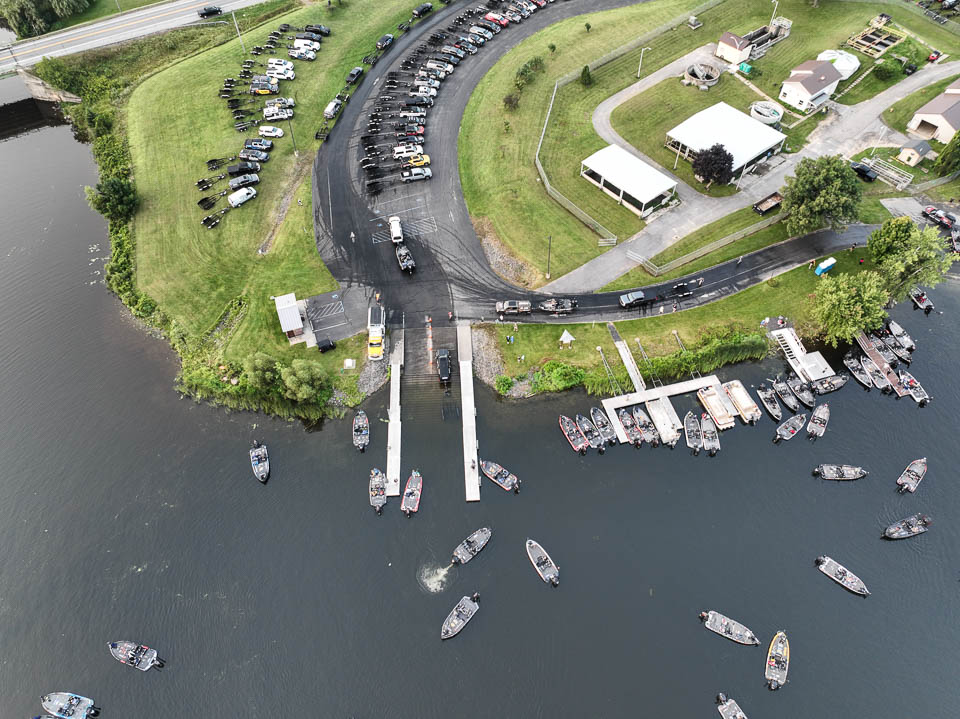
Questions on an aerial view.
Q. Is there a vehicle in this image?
Yes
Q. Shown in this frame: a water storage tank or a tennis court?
water storage tank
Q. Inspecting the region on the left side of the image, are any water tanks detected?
No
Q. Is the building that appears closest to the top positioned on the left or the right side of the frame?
right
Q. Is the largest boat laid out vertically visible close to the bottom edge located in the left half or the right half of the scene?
right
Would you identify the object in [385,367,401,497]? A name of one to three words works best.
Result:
pier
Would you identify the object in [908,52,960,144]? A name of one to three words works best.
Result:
building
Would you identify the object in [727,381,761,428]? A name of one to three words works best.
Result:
boat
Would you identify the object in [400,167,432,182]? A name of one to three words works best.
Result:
vehicle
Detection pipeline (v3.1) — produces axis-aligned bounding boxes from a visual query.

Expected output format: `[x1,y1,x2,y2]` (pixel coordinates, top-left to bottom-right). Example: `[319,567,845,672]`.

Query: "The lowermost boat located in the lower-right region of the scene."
[717,690,744,719]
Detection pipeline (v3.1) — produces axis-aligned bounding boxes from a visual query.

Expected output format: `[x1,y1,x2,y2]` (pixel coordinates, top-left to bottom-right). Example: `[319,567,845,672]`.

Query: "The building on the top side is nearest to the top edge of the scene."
[716,28,757,64]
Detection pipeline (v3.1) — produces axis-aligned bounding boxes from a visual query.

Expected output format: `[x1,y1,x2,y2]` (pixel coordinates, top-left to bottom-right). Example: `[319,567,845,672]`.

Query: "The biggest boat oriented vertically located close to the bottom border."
[767,629,789,688]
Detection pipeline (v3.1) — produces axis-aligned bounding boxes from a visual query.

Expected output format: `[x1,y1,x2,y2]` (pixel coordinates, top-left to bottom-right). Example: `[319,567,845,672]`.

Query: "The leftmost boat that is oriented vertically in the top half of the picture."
[397,240,412,275]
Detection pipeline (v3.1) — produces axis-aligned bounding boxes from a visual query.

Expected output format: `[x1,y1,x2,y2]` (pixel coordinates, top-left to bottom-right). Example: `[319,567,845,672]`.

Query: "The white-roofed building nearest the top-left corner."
[276,294,305,340]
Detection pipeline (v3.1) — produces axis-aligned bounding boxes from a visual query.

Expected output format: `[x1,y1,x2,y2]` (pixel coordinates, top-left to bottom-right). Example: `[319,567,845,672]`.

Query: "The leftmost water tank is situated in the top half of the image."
[684,61,723,90]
